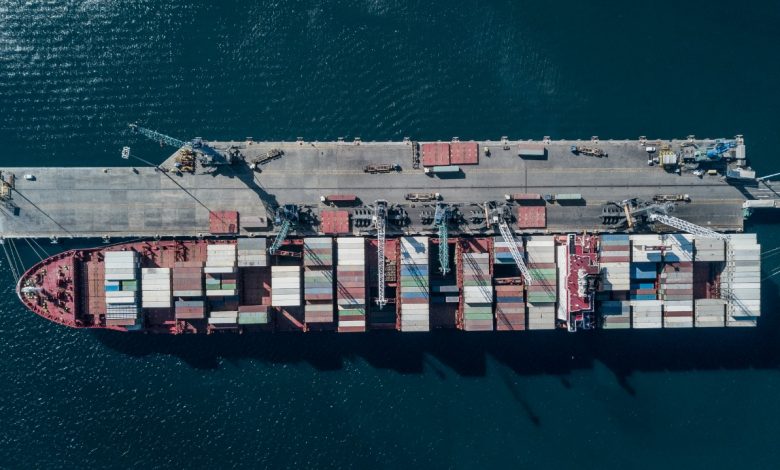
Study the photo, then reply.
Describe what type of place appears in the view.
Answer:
port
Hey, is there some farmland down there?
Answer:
No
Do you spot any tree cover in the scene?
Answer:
No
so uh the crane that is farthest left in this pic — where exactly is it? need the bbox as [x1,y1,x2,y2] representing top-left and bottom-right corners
[126,119,245,168]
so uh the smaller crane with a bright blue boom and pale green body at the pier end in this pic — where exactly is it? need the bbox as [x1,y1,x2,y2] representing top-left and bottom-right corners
[685,140,745,171]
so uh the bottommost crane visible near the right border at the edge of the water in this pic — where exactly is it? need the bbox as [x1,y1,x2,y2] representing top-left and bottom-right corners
[609,195,741,250]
